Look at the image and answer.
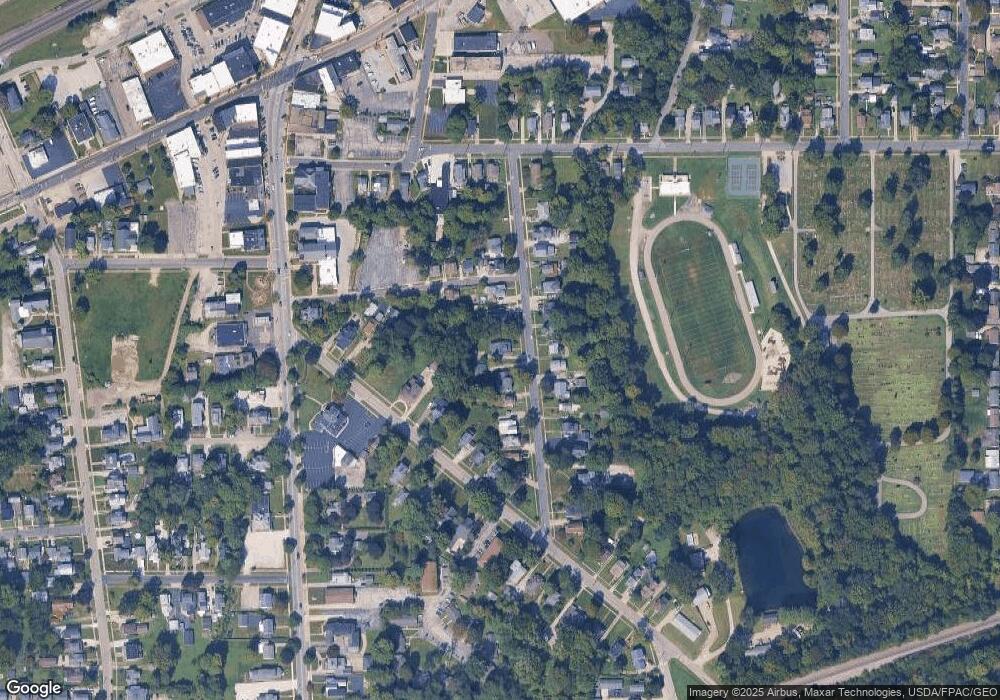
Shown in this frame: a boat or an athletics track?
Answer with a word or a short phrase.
athletics track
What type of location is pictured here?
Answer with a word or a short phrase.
residential area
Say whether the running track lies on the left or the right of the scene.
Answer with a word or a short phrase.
right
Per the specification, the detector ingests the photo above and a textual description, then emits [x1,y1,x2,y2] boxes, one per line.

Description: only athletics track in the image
[645,215,761,405]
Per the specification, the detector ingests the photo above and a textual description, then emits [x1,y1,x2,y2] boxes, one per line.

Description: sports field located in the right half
[662,241,751,374]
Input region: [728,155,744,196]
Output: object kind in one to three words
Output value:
tennis court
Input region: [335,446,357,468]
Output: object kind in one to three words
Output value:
building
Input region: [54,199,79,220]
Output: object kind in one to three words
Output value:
house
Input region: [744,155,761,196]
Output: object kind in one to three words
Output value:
tennis court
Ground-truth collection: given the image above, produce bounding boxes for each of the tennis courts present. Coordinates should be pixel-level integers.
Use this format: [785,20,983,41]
[728,155,744,196]
[744,155,761,196]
